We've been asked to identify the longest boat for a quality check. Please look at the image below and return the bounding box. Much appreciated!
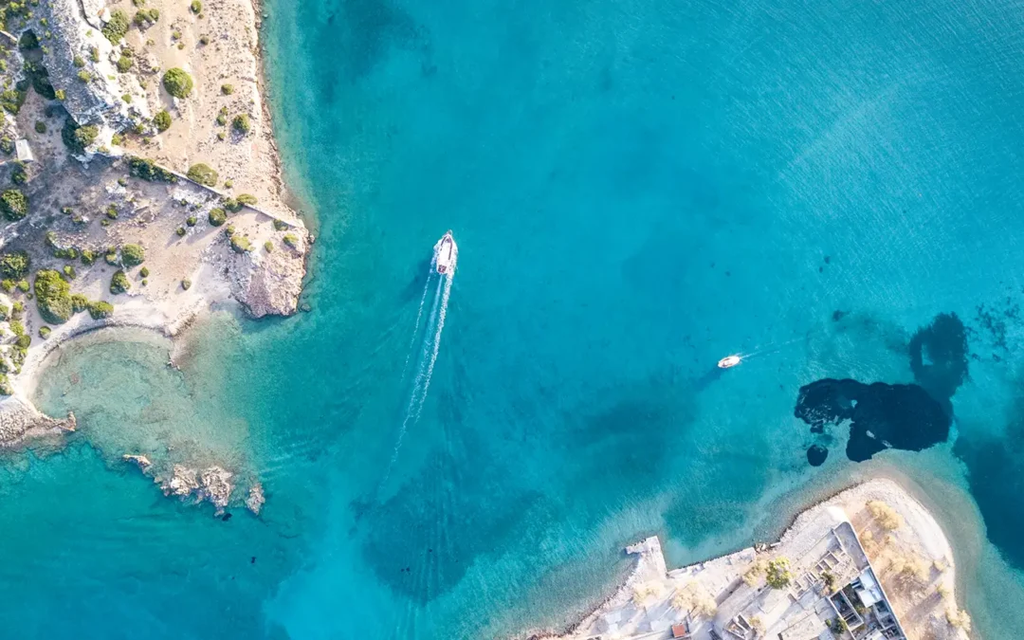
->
[435,227,453,276]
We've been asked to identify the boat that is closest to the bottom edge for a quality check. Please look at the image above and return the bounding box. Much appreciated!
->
[719,355,742,368]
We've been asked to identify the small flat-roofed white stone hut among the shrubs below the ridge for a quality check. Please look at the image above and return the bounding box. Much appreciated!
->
[16,139,37,161]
